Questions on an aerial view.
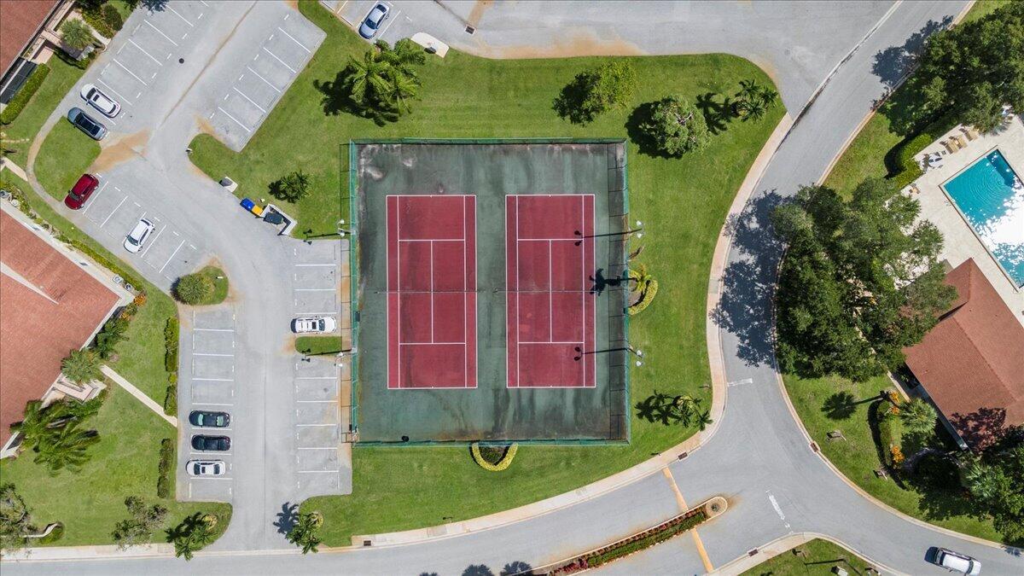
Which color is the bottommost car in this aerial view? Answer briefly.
white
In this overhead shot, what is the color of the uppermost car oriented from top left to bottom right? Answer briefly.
white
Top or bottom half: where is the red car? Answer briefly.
top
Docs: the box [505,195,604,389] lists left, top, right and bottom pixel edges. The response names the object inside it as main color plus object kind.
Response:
red tennis court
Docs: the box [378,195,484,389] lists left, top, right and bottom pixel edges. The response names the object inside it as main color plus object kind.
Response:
red tennis court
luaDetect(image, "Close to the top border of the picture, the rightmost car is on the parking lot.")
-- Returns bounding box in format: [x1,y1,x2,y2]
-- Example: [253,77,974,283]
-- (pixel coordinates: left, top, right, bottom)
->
[358,0,391,41]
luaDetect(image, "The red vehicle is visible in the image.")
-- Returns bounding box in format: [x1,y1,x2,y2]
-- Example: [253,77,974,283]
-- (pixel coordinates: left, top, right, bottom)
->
[66,173,101,211]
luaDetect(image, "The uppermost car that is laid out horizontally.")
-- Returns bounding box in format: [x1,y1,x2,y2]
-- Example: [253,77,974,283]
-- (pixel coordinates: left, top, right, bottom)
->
[294,316,336,334]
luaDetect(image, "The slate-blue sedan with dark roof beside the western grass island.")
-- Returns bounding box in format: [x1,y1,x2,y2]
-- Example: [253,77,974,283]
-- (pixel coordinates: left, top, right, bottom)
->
[69,108,108,142]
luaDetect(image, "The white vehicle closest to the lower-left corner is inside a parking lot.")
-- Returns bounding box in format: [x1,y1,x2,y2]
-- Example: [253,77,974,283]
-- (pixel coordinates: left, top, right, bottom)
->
[187,458,227,477]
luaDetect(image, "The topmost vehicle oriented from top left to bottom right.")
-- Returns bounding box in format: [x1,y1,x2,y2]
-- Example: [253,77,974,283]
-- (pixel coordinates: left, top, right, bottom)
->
[81,83,122,119]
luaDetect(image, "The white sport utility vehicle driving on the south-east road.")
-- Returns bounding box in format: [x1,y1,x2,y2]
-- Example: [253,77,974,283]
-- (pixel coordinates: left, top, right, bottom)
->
[934,546,978,574]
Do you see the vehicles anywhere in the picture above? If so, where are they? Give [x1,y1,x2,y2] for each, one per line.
[190,410,231,428]
[81,83,122,119]
[294,316,336,334]
[187,458,227,477]
[192,433,232,452]
[69,108,108,142]
[934,546,978,574]
[358,0,391,41]
[66,173,101,211]
[125,218,156,255]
